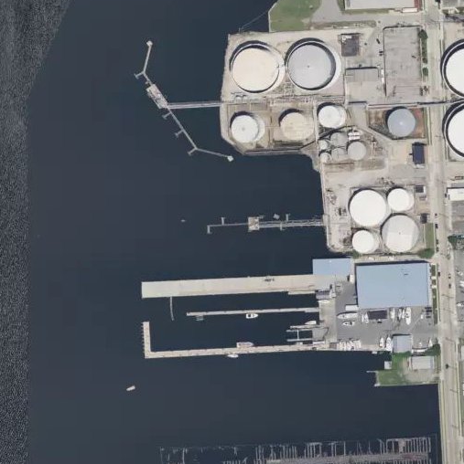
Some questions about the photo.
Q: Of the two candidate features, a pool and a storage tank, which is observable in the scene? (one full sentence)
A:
Looking from above, you can make out a storage tank.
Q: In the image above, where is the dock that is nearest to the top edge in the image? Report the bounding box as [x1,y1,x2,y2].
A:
[135,39,236,162]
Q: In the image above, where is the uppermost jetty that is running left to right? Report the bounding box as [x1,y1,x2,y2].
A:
[207,213,325,234]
